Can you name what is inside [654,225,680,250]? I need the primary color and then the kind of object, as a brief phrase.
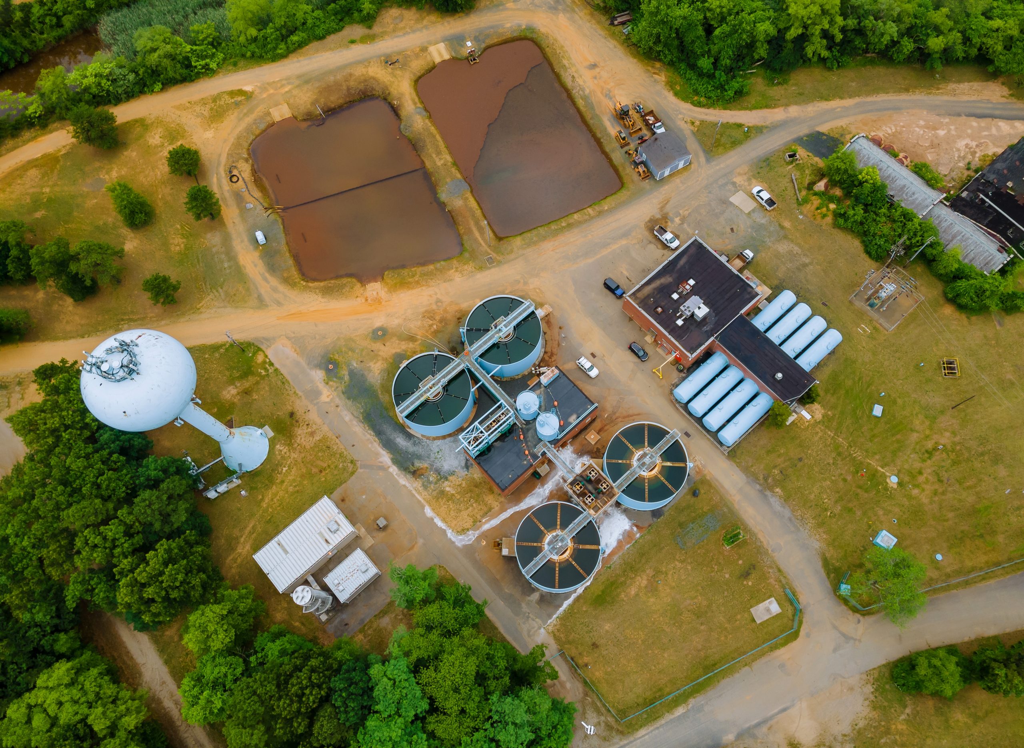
white truck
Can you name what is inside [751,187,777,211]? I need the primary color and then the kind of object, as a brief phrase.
white truck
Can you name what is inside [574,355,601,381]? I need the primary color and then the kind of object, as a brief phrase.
white car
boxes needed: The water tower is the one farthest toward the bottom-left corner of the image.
[78,327,266,470]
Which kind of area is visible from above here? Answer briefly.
industrial area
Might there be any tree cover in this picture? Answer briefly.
Yes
